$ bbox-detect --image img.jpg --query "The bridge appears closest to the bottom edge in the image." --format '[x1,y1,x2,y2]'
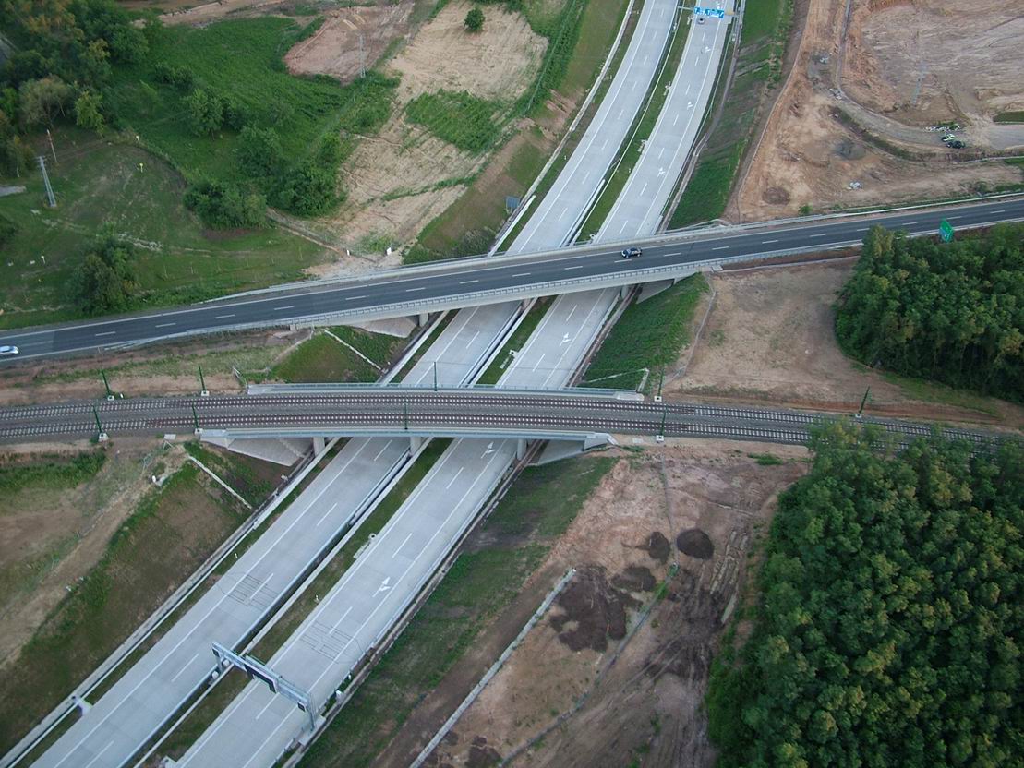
[173,383,667,466]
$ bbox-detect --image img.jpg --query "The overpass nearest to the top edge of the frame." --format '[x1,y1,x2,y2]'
[292,226,736,337]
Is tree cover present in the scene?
Yes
